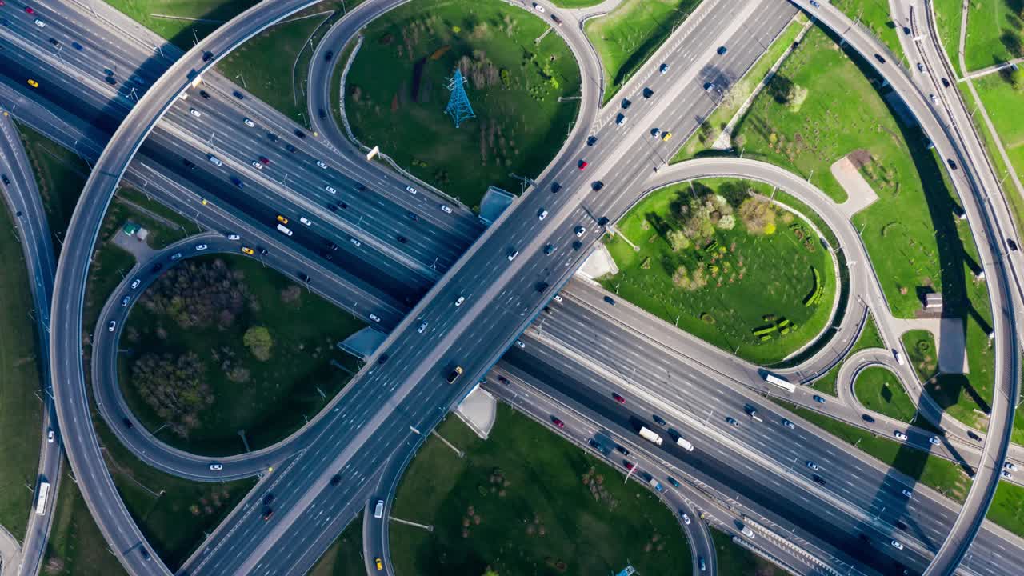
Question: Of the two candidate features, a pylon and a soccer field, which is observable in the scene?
pylon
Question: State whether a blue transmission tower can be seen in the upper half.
Yes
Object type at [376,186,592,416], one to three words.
bridge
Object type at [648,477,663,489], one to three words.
vehicle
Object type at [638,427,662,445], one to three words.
vehicle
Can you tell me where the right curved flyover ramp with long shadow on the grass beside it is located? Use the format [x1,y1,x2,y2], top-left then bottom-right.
[791,0,1020,576]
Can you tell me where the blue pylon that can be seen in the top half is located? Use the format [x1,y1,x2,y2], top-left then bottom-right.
[443,69,477,129]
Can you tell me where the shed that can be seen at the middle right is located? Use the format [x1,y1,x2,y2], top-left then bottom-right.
[926,293,946,310]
